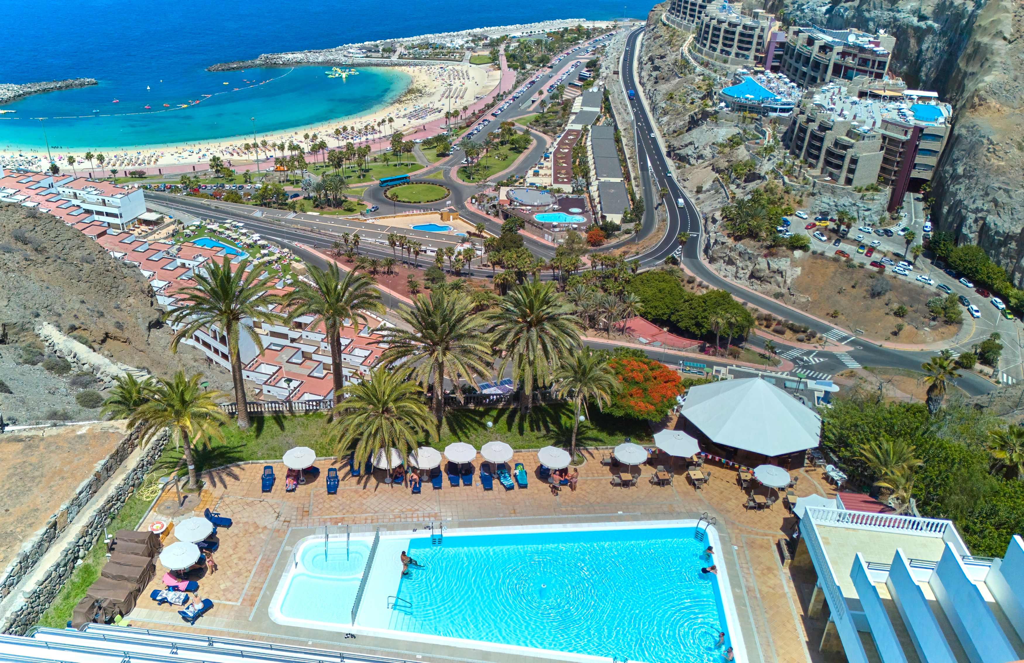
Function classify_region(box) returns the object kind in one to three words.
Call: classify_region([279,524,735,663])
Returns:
swimming pool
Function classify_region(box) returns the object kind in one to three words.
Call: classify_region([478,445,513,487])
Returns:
umbrella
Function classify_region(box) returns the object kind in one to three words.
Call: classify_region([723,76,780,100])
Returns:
swimming pool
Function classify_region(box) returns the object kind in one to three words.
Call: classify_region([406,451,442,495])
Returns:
umbrella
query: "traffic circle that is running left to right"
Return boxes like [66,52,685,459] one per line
[356,175,477,209]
